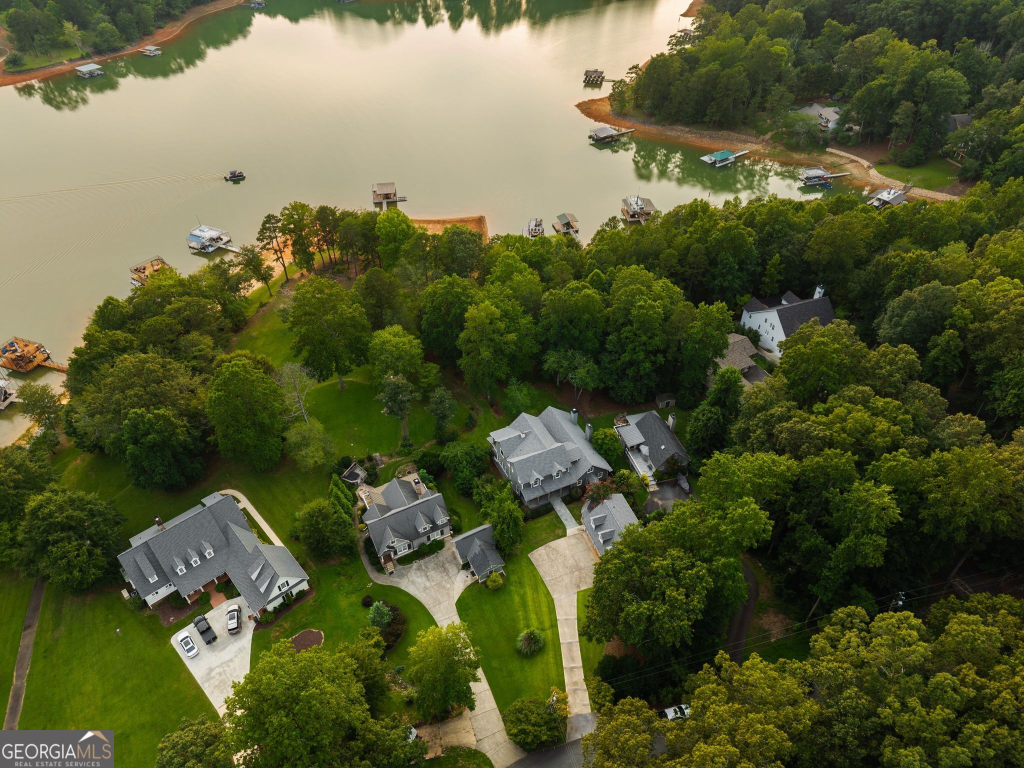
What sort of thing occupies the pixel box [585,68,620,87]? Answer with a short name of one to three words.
pier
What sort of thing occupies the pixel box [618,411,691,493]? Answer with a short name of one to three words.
house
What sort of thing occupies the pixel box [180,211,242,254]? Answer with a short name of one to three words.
pier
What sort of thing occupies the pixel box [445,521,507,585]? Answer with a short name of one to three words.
building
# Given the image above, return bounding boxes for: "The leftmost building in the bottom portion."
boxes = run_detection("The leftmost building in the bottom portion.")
[118,489,309,621]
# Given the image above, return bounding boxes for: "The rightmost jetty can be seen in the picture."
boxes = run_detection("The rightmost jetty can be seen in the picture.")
[866,184,914,212]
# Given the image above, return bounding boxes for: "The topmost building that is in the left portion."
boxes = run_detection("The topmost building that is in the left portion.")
[371,180,408,204]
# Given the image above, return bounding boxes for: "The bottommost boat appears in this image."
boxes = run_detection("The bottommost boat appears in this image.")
[672,470,692,501]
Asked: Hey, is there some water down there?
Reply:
Yes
